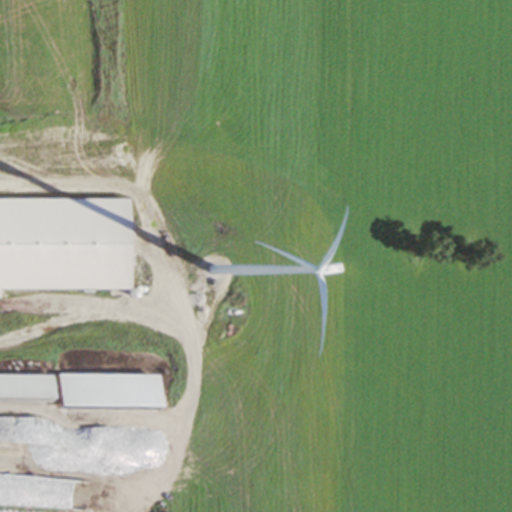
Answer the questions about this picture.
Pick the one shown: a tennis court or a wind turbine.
wind turbine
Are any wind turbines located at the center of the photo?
Yes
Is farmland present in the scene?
Yes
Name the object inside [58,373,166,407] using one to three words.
shed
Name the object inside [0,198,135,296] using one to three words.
barn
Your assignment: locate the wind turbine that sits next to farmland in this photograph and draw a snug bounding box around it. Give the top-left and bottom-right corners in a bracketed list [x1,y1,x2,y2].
[206,204,350,360]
